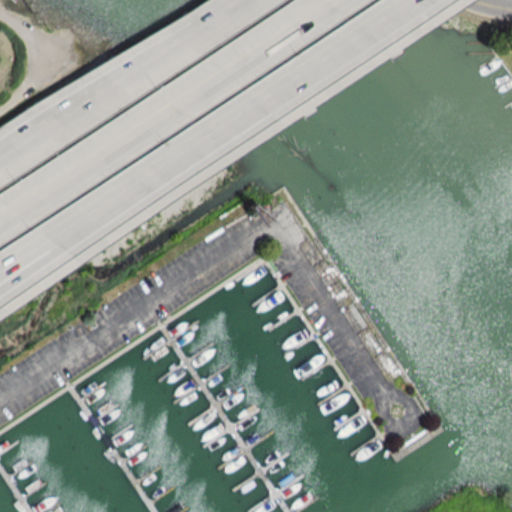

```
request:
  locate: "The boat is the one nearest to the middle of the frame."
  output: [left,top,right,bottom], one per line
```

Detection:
[244,265,270,286]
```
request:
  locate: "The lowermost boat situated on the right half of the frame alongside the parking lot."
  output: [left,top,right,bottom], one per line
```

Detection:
[356,439,386,462]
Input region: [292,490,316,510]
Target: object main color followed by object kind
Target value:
white boat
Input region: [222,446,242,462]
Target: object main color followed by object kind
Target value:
white boat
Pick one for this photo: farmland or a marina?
marina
